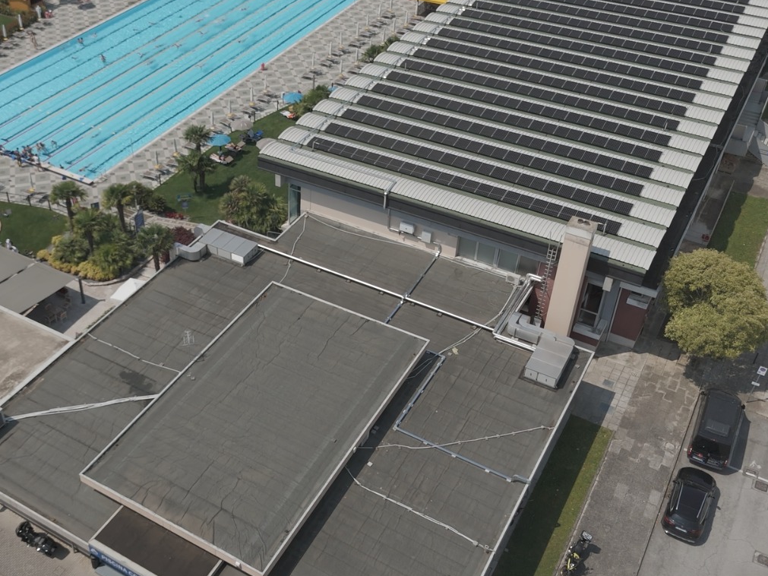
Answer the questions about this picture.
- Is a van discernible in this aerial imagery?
Yes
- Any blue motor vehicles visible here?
No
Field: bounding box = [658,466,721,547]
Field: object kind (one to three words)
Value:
car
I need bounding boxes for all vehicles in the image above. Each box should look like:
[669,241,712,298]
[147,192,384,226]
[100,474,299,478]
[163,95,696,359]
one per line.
[658,466,721,547]
[567,531,594,576]
[686,399,747,479]
[19,519,55,552]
